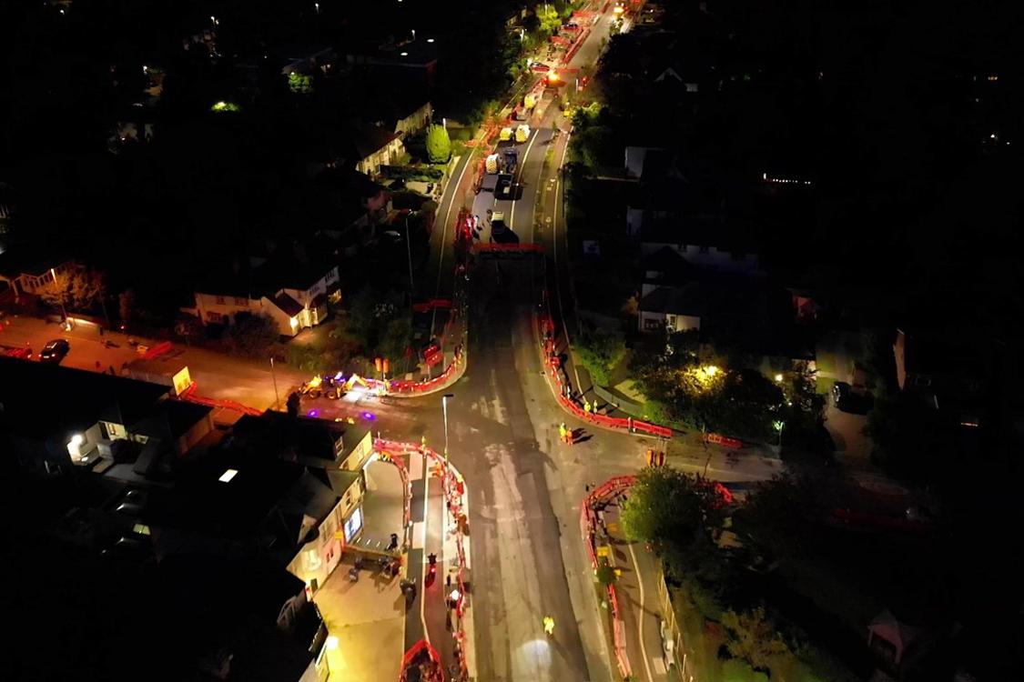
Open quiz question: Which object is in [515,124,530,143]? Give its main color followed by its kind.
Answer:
yellow vehicle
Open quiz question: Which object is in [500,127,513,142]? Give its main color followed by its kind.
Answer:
yellow vehicle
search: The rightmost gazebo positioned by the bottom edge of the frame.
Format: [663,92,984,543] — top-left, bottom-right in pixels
[862,599,927,676]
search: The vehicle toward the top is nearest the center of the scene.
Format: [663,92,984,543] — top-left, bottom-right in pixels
[490,214,505,235]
